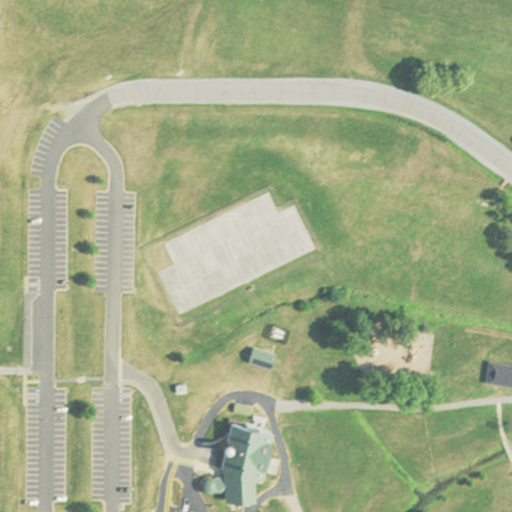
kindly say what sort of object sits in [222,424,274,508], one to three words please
building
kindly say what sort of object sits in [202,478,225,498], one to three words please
building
